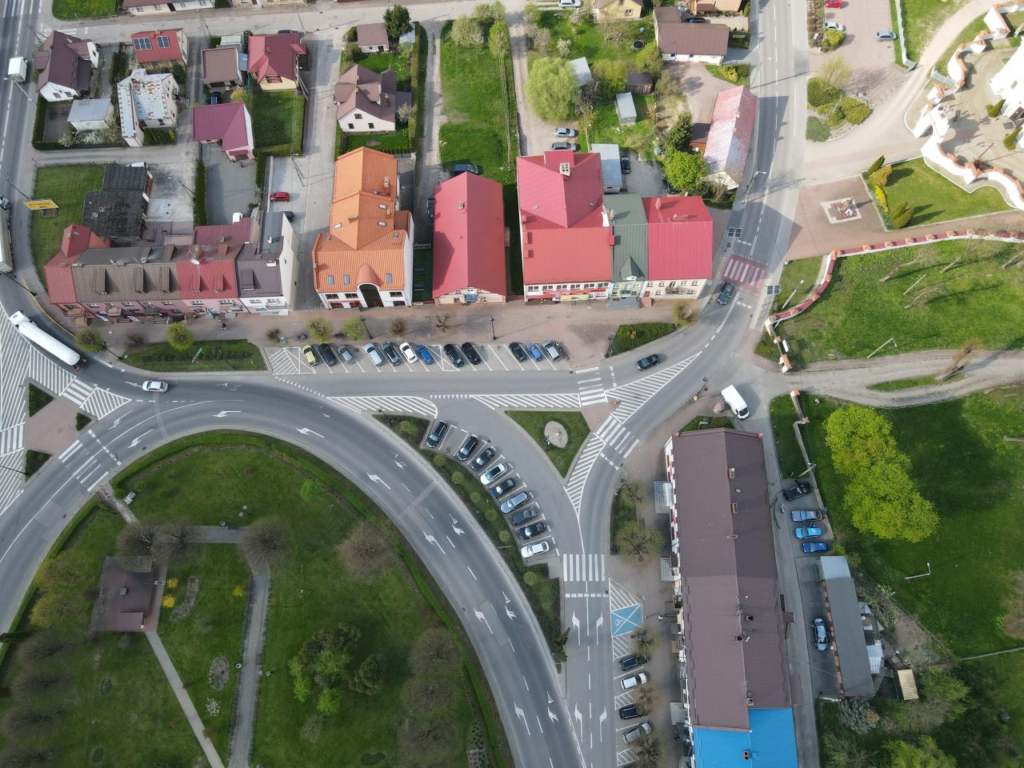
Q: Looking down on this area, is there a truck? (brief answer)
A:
Yes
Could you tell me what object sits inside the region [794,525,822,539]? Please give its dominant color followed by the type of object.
blue car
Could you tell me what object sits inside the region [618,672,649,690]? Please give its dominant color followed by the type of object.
white car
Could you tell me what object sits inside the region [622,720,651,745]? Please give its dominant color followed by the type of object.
gray car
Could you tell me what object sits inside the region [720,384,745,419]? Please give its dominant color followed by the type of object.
white vehicle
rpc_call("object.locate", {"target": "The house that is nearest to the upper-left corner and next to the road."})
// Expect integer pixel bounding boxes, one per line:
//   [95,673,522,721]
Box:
[34,30,97,101]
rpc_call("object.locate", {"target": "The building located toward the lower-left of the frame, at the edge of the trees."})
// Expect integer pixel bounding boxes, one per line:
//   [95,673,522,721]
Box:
[91,556,152,632]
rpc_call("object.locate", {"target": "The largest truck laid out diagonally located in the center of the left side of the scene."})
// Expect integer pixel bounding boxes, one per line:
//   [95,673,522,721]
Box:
[9,314,90,376]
